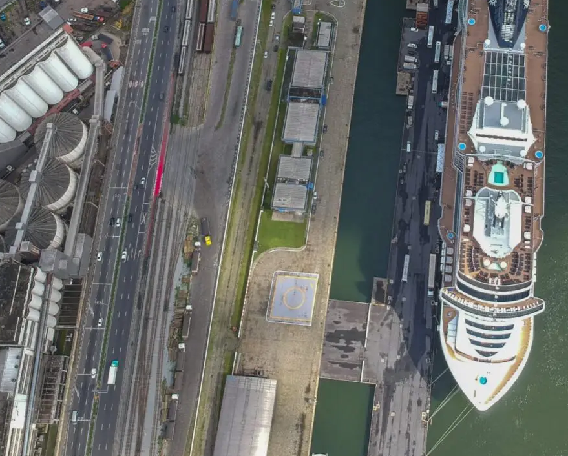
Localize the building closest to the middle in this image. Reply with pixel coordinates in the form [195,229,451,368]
[271,180,309,211]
